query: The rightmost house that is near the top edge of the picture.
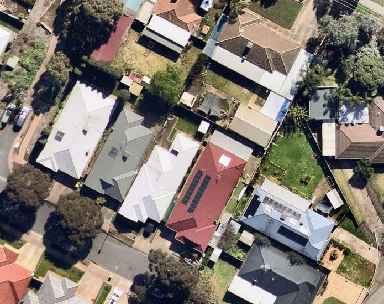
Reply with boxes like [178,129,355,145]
[204,7,314,100]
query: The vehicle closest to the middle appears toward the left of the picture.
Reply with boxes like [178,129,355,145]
[142,219,156,240]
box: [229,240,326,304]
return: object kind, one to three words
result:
house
